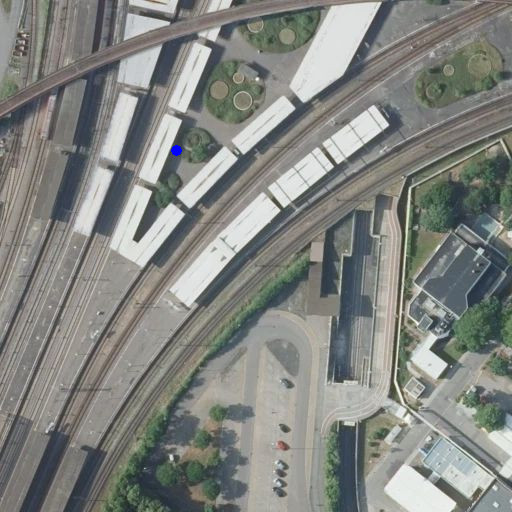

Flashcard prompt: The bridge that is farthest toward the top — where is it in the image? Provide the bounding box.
[0,0,360,116]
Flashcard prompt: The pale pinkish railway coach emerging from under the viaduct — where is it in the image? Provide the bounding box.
[42,84,62,140]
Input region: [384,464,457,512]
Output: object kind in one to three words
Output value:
building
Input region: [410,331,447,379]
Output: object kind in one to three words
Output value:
building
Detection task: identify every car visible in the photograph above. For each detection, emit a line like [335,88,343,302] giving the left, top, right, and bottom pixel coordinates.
[16,39,28,45]
[274,478,286,487]
[18,32,30,38]
[274,488,285,496]
[275,441,286,450]
[274,468,286,478]
[16,45,28,51]
[279,424,290,432]
[14,51,26,57]
[276,460,288,468]
[280,378,292,387]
